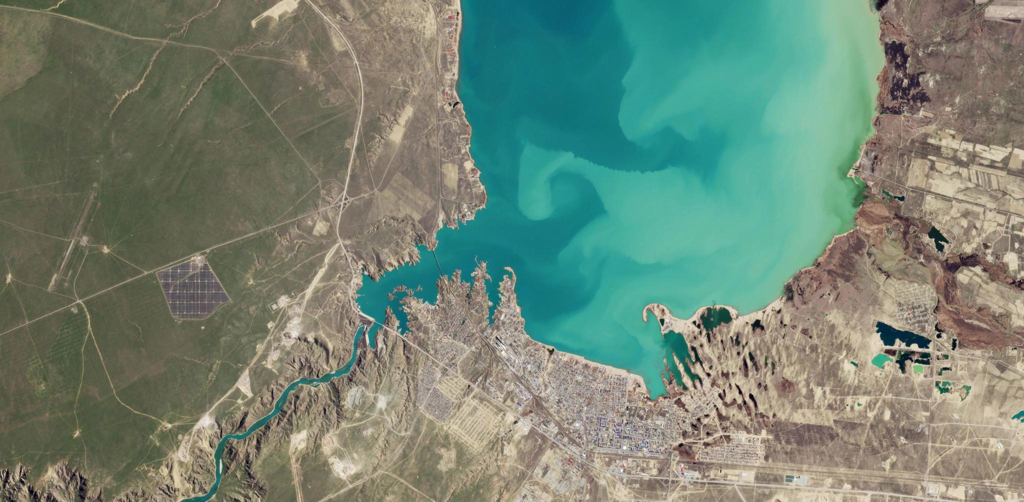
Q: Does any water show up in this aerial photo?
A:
Yes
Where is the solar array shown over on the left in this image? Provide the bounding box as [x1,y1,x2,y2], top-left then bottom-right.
[157,261,230,318]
